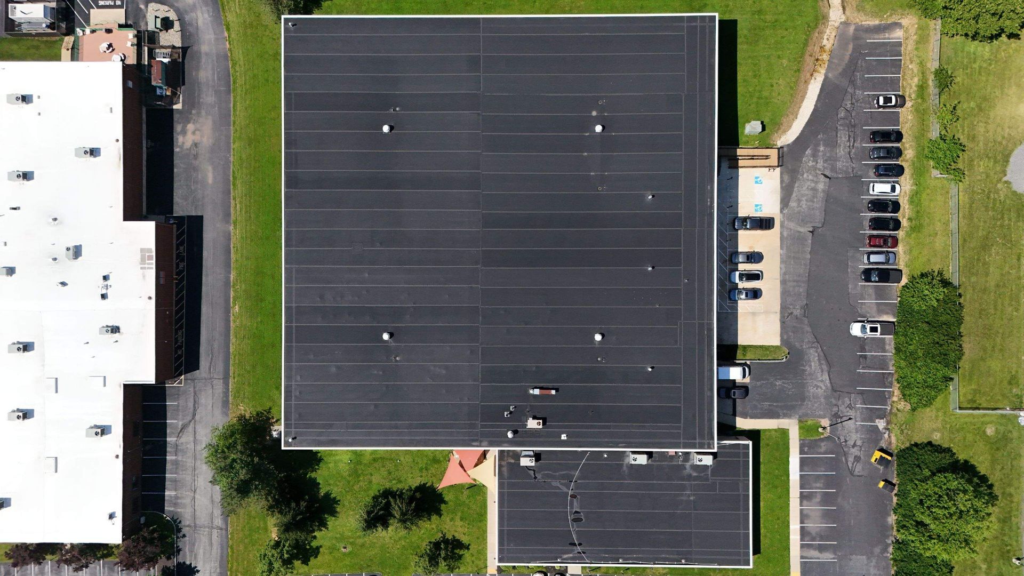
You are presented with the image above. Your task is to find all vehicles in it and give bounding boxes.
[868,181,901,196]
[848,320,897,337]
[868,146,902,161]
[868,129,903,144]
[730,250,764,265]
[728,287,764,302]
[872,162,905,178]
[552,570,564,576]
[859,267,905,284]
[865,234,899,249]
[873,93,905,109]
[715,364,750,381]
[862,250,896,266]
[717,385,749,400]
[867,216,901,231]
[729,268,764,284]
[732,214,776,231]
[866,198,900,213]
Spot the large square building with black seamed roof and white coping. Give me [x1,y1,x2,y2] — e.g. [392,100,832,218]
[282,13,717,450]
